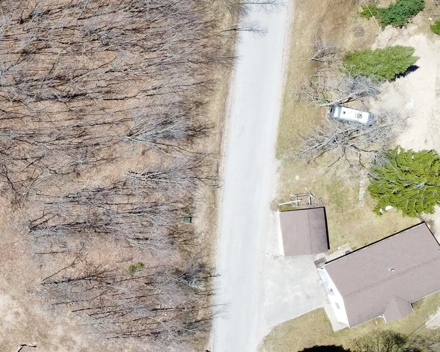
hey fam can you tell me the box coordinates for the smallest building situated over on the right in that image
[274,207,328,257]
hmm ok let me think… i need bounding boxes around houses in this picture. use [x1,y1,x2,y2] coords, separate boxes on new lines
[318,223,440,329]
[274,207,328,257]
